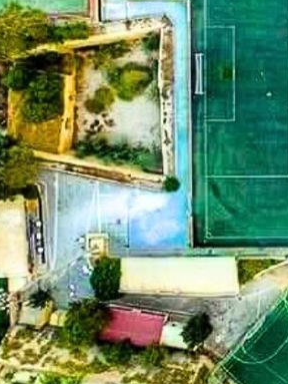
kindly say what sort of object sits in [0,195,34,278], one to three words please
building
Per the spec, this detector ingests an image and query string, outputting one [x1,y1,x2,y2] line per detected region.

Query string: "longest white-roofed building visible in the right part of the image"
[119,253,244,294]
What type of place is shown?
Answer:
sports ground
